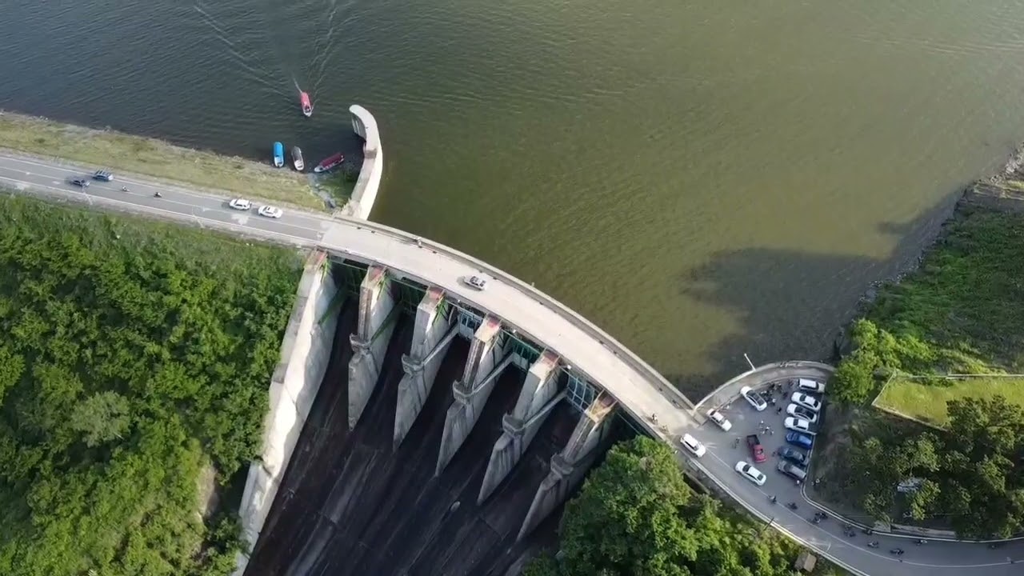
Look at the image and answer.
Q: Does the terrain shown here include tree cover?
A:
Yes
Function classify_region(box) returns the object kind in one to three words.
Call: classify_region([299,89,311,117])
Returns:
boat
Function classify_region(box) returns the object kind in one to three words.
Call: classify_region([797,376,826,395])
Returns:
vehicle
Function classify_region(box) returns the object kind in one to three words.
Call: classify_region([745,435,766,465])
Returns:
truck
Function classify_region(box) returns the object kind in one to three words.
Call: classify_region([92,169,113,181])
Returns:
vehicle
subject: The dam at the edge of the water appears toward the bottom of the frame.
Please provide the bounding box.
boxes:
[218,246,683,576]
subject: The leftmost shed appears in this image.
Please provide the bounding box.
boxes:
[792,545,819,573]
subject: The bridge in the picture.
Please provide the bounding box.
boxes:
[313,214,696,447]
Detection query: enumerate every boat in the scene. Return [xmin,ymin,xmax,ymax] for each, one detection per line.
[299,89,311,117]
[291,144,302,172]
[272,140,283,168]
[314,153,345,172]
